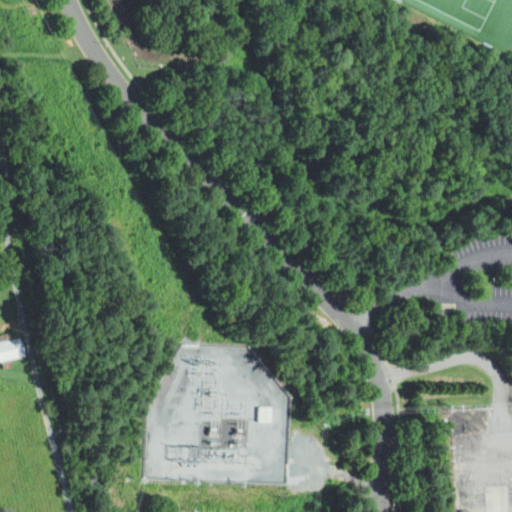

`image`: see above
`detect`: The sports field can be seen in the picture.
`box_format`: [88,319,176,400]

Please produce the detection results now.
[410,0,512,58]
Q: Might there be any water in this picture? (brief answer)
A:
No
